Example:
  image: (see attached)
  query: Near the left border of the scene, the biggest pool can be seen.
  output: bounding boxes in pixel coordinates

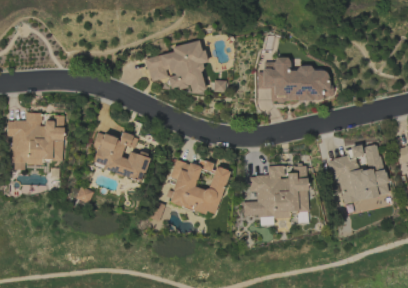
[16,174,48,186]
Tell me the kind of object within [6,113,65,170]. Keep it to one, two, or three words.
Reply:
house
